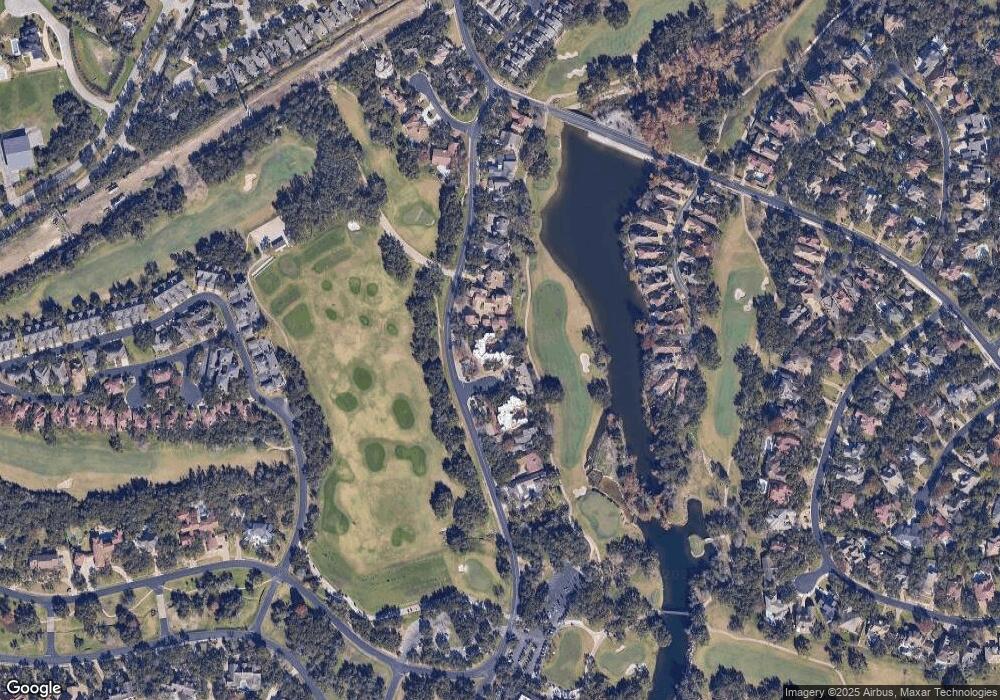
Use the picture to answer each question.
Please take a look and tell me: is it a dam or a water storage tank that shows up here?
dam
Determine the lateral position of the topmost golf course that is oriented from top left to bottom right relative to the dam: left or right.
on its left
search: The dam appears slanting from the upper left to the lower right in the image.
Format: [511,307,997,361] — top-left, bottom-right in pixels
[567,104,652,162]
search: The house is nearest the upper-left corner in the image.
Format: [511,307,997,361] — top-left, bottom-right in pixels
[20,21,42,56]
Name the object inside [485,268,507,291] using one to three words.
house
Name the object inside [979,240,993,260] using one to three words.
swimming pool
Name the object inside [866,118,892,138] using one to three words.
house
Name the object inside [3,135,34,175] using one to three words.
building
